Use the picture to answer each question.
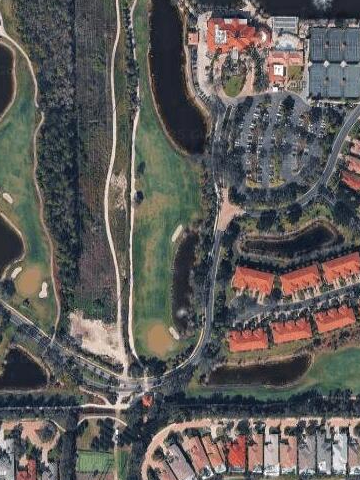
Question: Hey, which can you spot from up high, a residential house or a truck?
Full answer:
There is a residential house in the scene.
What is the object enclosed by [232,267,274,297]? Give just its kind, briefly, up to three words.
house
